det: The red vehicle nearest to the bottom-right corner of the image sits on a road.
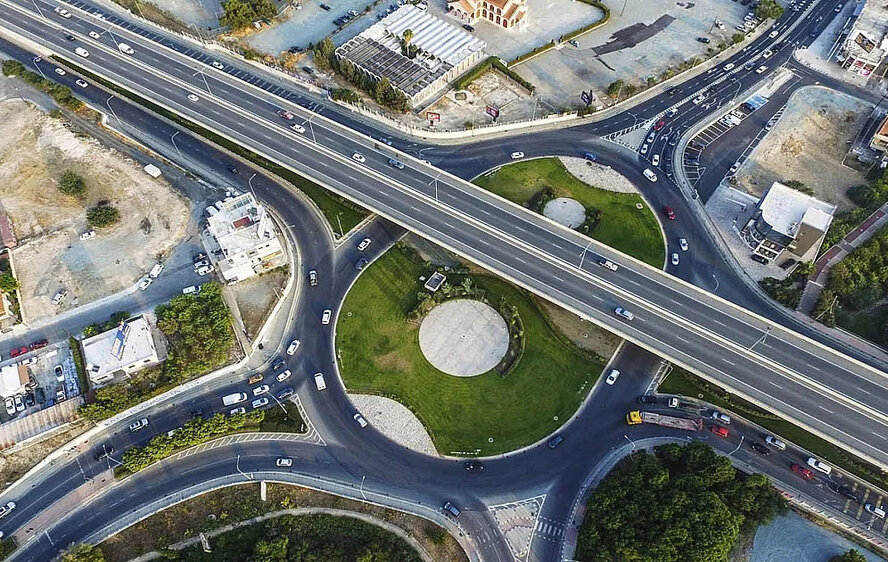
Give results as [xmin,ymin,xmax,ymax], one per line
[791,464,813,479]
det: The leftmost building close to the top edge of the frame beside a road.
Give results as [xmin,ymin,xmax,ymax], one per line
[336,5,486,111]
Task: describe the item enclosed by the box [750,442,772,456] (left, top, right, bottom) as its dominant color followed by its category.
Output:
black vehicle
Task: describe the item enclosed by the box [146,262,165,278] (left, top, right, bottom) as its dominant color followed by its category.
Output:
white vehicle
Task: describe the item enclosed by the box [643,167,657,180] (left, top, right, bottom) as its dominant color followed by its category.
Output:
white vehicle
